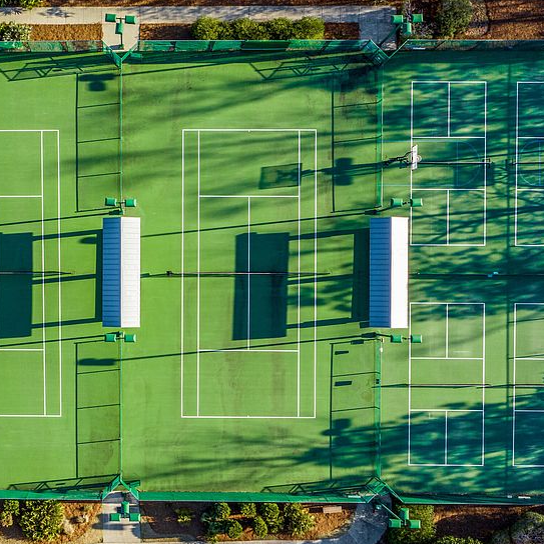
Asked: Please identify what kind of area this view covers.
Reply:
sports ground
